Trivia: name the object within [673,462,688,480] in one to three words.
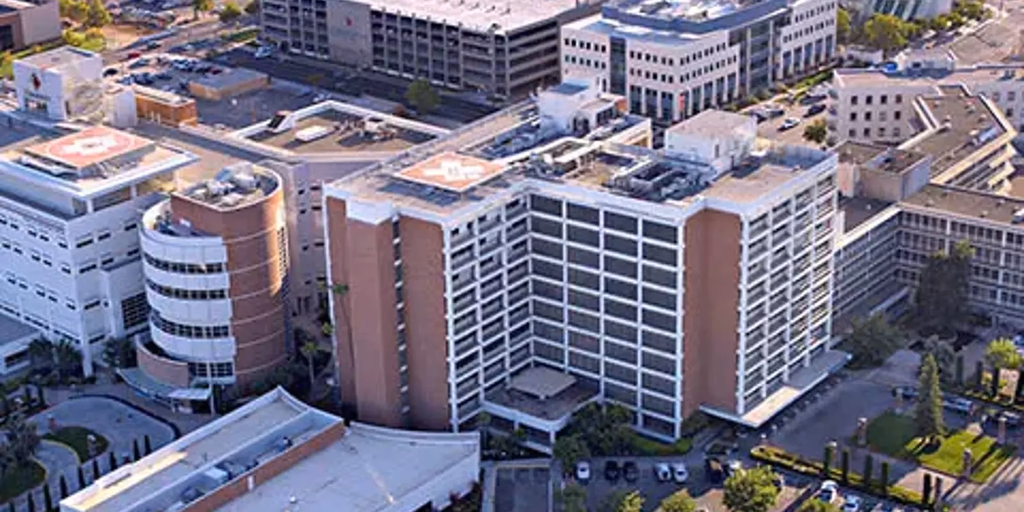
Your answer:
car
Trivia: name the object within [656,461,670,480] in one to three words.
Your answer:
car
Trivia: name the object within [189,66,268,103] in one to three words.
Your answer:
building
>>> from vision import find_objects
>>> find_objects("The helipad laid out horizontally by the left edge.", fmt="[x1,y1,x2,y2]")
[21,126,155,173]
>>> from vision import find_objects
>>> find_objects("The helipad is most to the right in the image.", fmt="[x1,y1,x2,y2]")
[389,151,506,198]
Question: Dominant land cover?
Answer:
buildings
